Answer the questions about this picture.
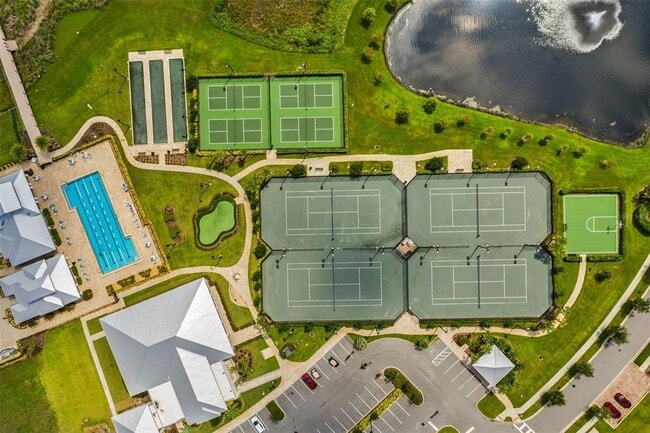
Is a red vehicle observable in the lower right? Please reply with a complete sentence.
Yes, a red vehicle appears in the lower right.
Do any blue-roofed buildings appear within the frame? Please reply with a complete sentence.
No, there isn't any blue-roofed building down there.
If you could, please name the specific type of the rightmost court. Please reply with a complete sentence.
From above, the rightmost court can be identified as a basketball court.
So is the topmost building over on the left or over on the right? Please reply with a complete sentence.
The topmost building is on the left side of the image.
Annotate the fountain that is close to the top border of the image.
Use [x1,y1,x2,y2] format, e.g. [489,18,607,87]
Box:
[514,0,625,62]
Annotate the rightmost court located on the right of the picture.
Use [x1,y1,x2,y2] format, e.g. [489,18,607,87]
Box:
[564,194,619,253]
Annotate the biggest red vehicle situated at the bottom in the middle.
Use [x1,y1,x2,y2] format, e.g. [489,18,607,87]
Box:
[301,371,318,390]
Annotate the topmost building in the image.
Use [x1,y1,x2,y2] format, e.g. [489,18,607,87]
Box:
[0,170,60,267]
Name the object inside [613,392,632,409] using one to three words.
car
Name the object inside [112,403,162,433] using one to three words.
building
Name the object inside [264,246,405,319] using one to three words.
tennis court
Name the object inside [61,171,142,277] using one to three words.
swimming pool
